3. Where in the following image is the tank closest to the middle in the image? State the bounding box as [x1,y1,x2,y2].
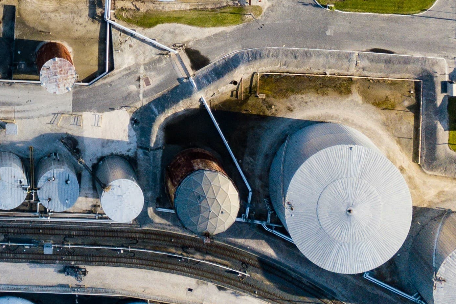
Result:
[163,147,241,243]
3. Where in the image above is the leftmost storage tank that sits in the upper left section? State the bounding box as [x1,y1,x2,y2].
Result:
[35,41,77,95]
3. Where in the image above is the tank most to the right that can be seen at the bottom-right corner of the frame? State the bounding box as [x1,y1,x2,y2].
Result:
[406,208,456,304]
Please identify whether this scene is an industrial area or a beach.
industrial area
